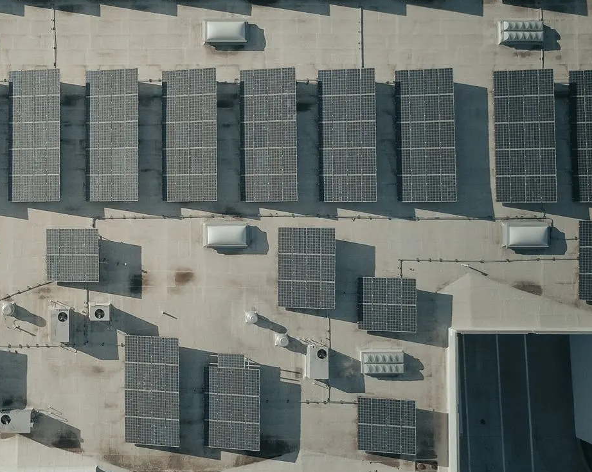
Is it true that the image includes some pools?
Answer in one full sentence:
No, this view has no pool in it.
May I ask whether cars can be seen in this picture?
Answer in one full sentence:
No, there appears to be no car in this shot.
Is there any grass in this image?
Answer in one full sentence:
No, the picture contains no grass.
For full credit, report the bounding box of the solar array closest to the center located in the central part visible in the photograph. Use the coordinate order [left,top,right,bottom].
[278,228,335,309]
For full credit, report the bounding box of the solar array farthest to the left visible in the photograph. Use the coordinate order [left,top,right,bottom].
[8,68,60,202]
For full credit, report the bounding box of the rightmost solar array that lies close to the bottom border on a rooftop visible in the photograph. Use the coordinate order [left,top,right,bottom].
[358,397,416,455]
